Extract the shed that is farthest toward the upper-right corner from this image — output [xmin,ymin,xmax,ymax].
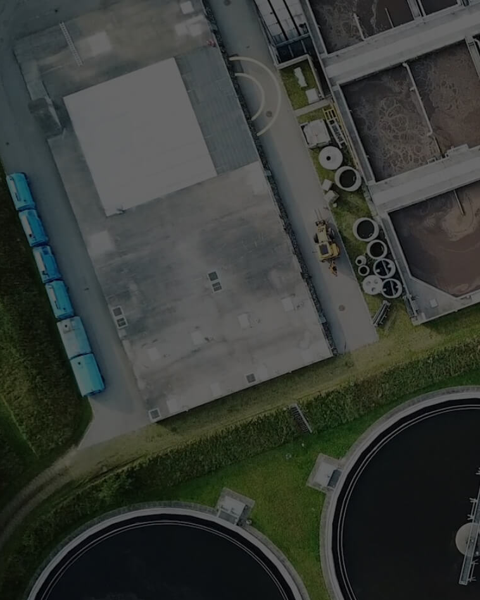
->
[298,116,335,152]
